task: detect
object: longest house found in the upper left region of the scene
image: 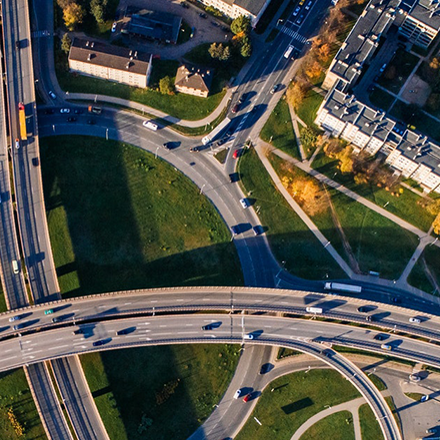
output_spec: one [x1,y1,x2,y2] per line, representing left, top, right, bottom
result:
[69,37,153,84]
